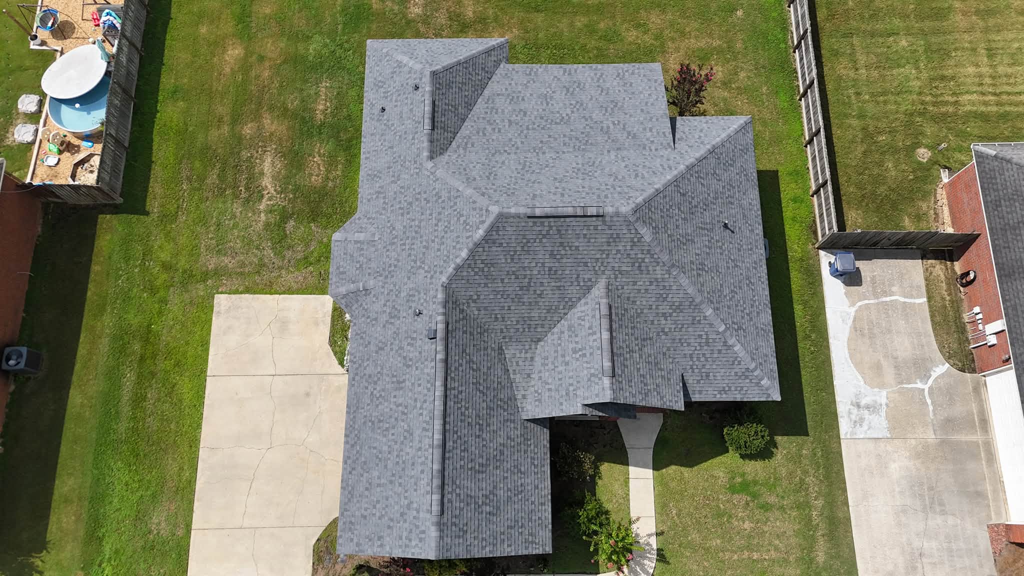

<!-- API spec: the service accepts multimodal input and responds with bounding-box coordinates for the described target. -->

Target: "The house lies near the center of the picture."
[328,38,780,562]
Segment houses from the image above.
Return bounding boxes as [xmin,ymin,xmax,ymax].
[0,159,41,439]
[939,141,1024,547]
[328,38,780,562]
